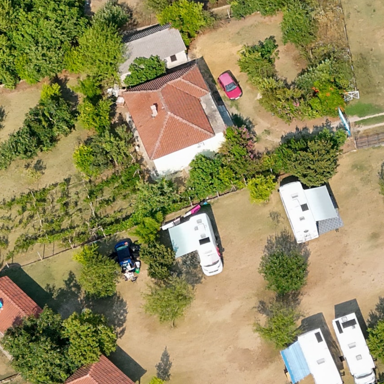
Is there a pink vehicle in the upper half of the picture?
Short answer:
Yes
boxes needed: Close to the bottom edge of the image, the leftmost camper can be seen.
[282,329,346,384]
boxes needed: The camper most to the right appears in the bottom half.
[332,313,379,384]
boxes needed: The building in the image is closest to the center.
[122,63,227,173]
